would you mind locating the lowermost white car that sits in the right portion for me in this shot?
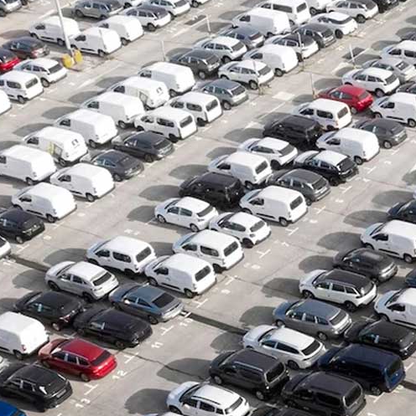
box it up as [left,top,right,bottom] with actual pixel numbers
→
[231,321,318,367]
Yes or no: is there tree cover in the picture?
No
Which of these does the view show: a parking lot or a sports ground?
parking lot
